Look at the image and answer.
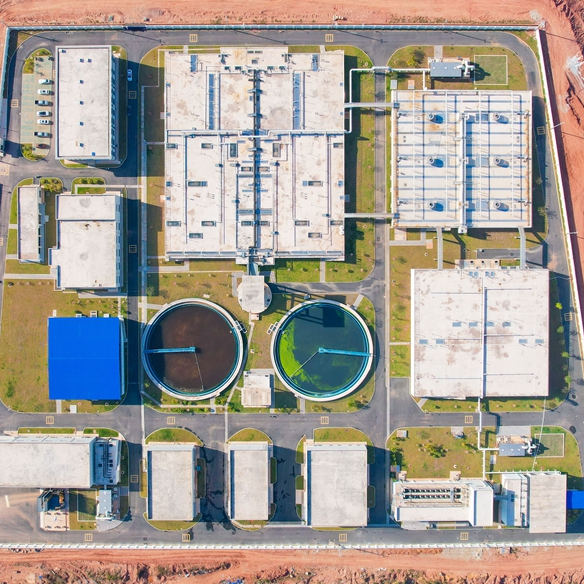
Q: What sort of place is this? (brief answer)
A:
industrial area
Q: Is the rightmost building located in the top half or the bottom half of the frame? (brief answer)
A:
bottom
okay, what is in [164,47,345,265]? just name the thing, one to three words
building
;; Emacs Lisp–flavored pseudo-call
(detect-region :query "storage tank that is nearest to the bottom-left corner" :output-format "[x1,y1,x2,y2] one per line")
[142,298,244,400]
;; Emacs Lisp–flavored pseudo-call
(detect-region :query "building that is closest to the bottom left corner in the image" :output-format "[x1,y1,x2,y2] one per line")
[0,434,124,487]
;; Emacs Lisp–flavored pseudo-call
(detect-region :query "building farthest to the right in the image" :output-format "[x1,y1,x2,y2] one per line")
[522,469,567,533]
